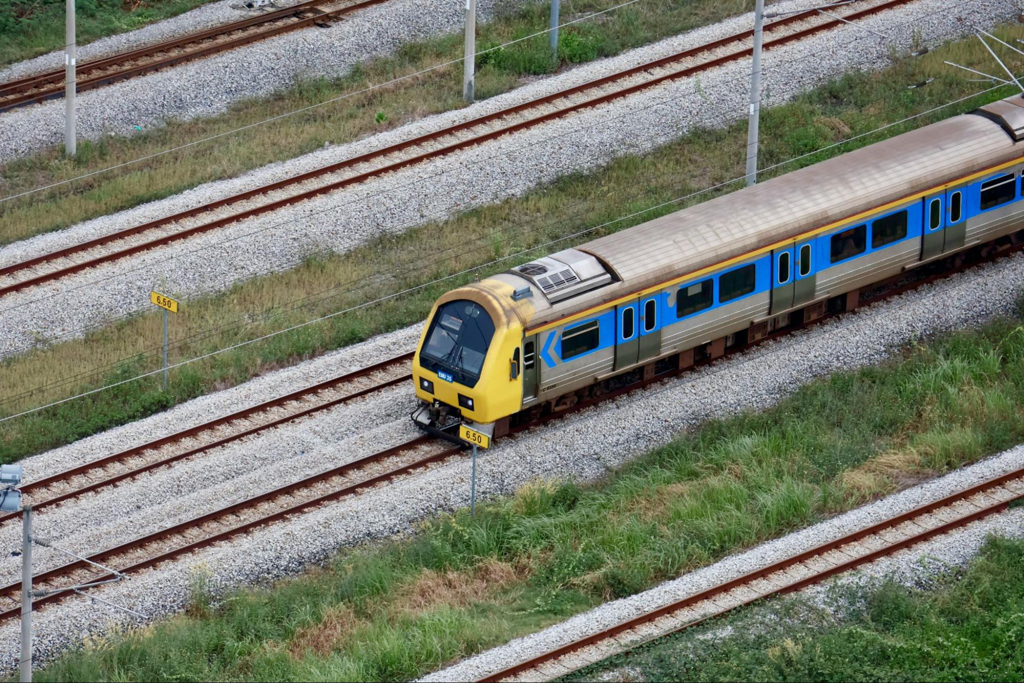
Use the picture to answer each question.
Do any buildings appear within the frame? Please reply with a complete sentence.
No, no building can be seen from above.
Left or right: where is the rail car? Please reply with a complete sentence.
The rail car is on the right side of the image.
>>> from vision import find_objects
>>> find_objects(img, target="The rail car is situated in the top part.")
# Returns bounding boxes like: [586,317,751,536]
[409,94,1024,447]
